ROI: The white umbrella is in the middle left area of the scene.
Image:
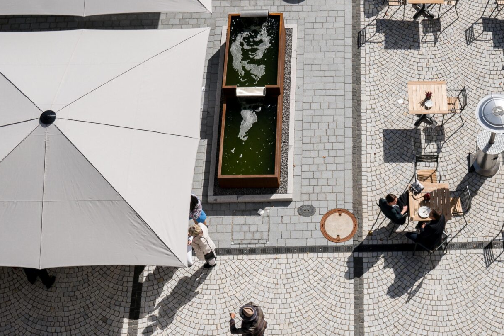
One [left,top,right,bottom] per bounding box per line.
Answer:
[0,29,211,271]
